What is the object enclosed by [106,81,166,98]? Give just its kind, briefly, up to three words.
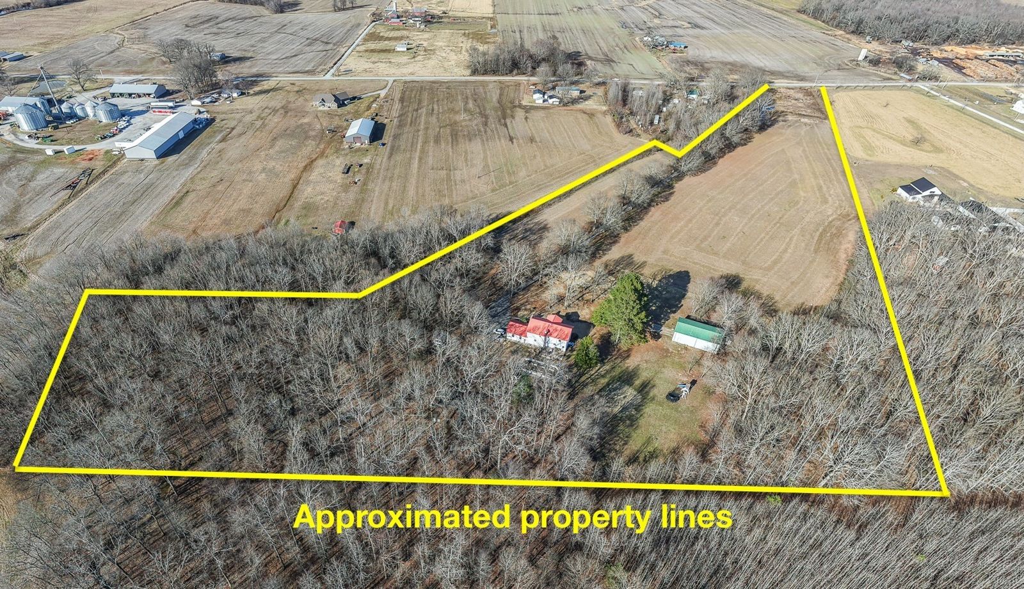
shed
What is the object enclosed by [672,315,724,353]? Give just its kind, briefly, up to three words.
barn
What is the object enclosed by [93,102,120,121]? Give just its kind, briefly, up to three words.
silo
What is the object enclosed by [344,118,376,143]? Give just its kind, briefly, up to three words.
building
